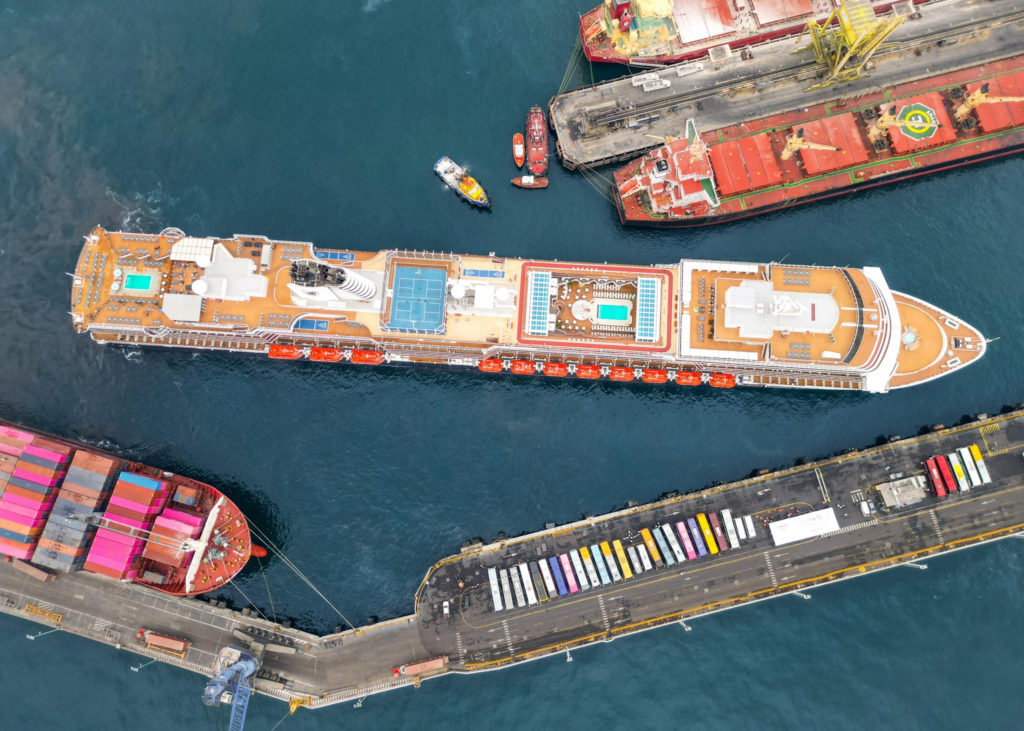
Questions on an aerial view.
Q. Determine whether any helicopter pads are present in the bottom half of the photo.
No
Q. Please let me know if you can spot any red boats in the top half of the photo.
Yes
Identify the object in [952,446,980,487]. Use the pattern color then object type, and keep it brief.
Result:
white bus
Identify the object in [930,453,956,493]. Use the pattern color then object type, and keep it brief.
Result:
red bus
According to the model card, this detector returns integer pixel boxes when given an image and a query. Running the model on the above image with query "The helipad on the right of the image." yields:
[897,100,939,143]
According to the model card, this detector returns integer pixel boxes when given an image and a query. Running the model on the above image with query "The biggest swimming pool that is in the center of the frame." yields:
[589,298,633,326]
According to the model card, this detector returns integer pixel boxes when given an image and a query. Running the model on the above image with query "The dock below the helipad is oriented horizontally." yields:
[0,409,1024,709]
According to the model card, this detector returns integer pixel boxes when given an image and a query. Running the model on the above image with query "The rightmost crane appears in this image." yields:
[946,94,1024,124]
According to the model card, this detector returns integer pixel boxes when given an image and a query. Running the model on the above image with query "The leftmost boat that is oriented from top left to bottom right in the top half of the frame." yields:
[430,152,493,209]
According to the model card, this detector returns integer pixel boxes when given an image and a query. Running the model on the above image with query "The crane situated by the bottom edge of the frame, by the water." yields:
[201,626,307,731]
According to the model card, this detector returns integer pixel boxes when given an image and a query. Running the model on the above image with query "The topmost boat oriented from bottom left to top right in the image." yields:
[578,14,609,47]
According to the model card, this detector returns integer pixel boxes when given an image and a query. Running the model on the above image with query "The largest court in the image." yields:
[390,264,447,331]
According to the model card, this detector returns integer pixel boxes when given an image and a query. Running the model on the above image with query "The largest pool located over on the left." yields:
[120,268,162,297]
